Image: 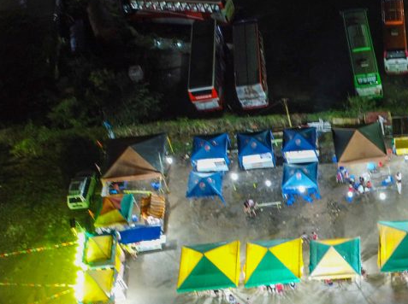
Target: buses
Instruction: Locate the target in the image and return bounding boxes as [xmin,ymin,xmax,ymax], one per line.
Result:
[343,10,382,98]
[123,0,236,26]
[381,0,408,74]
[187,19,223,112]
[234,20,267,110]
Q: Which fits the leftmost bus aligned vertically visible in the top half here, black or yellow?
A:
black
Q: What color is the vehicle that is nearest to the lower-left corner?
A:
green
